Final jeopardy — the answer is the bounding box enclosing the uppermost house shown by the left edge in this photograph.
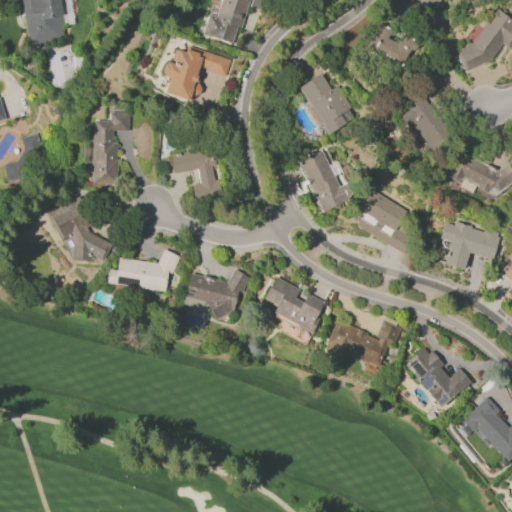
[24,0,67,44]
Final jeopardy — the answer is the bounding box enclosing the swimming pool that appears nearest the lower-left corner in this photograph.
[92,290,114,308]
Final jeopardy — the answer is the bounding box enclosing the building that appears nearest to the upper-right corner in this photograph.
[460,11,512,68]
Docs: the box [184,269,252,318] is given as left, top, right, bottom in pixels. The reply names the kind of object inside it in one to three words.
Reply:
house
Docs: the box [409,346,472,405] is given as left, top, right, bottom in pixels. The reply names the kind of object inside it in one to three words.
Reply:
house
